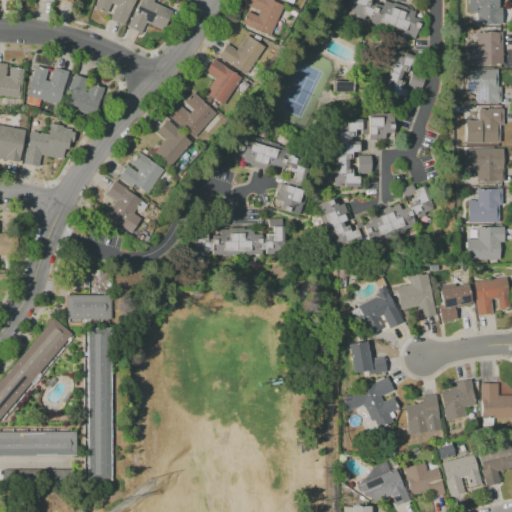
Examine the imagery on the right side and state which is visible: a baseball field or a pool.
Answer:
pool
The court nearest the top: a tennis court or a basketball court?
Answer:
tennis court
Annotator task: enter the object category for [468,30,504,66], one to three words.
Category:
house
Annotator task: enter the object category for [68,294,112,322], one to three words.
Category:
building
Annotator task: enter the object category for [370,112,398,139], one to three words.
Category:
house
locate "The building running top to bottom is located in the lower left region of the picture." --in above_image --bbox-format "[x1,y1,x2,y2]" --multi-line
[88,330,114,481]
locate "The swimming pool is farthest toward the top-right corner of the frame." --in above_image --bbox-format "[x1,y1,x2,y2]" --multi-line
[328,41,354,61]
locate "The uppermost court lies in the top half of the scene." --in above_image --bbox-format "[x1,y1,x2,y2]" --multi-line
[282,56,332,126]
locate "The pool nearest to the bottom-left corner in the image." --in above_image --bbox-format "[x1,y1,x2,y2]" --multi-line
[48,378,68,404]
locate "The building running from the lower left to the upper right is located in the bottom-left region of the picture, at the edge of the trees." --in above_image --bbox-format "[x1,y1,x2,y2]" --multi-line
[0,322,72,424]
